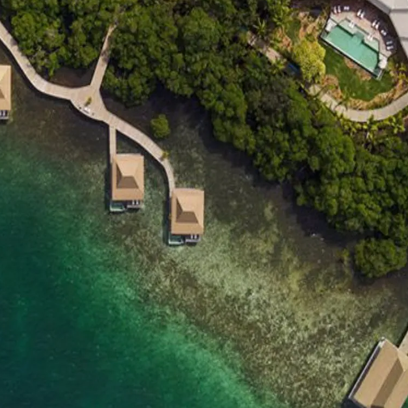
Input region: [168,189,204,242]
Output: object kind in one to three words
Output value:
house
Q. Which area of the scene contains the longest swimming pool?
top right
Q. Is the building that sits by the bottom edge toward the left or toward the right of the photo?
right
